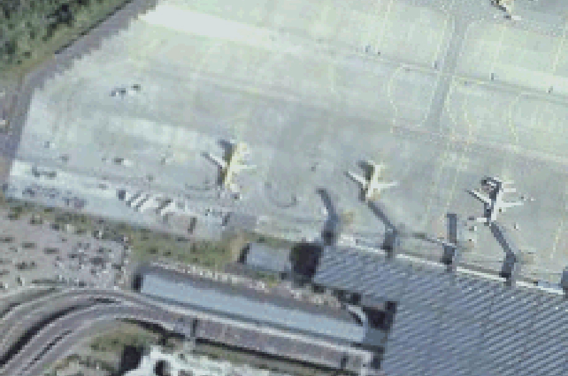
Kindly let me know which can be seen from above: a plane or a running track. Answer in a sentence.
I can see a plane in this picture.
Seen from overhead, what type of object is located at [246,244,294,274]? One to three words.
building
